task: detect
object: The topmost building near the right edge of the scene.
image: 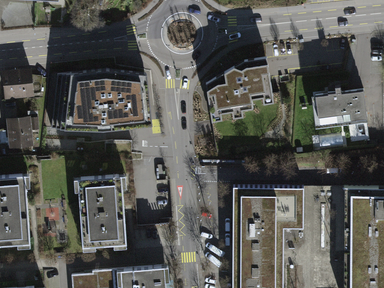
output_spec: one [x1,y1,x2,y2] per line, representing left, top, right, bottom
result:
[312,84,366,128]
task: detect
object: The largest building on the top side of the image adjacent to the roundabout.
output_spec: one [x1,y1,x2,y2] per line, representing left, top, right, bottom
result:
[52,68,151,130]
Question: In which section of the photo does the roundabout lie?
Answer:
top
